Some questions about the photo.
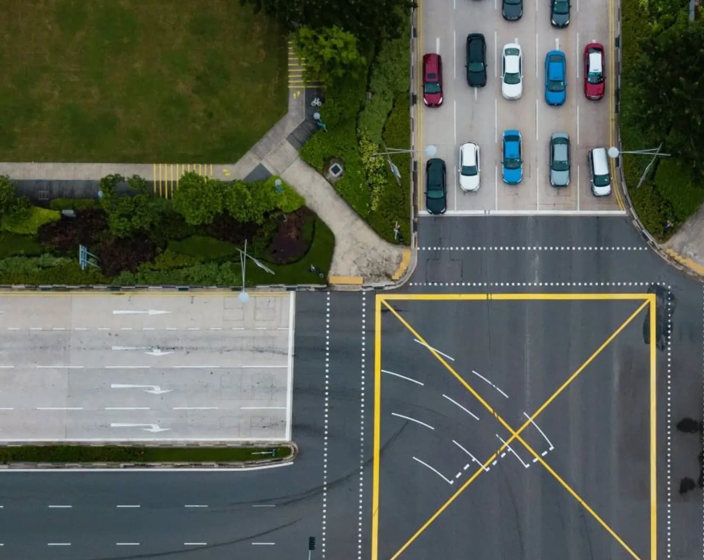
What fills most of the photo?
paved ground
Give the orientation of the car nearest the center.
vertically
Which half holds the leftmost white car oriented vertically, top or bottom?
top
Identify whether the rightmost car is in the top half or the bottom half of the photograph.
top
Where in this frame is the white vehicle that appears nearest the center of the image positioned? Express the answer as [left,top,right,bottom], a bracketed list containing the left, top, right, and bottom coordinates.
[457,138,481,190]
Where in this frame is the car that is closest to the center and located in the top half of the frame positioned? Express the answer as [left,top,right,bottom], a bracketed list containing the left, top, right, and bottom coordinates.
[422,156,449,212]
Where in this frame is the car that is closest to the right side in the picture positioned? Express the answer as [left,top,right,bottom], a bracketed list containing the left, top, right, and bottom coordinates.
[582,41,607,98]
